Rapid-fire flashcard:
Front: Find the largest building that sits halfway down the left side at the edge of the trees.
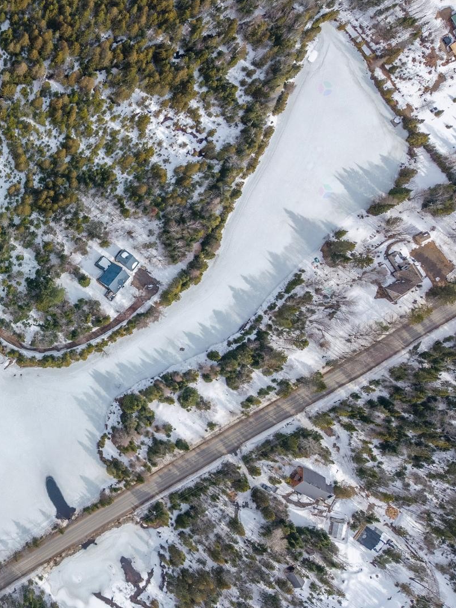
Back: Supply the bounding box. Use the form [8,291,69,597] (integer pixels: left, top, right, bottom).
[95,255,129,298]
